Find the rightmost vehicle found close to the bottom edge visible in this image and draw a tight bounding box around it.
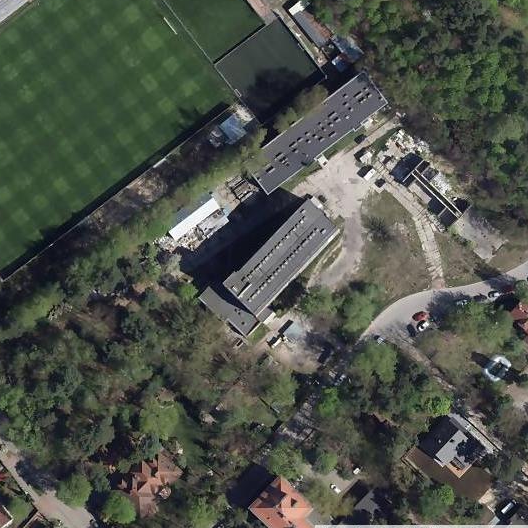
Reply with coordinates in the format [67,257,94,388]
[499,500,516,514]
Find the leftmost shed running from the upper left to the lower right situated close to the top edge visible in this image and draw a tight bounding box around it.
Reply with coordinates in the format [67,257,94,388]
[294,4,331,48]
